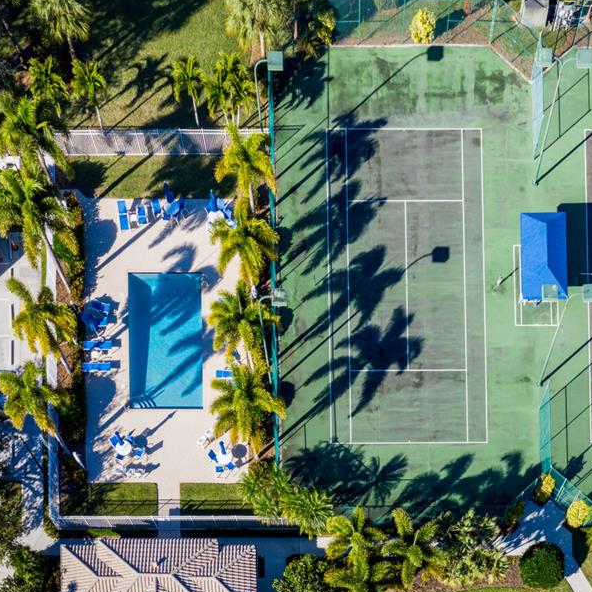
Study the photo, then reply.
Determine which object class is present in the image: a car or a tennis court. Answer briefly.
tennis court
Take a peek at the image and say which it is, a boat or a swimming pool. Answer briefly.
swimming pool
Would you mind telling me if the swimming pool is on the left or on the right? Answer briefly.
left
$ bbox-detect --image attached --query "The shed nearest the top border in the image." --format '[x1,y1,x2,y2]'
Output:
[519,0,548,40]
